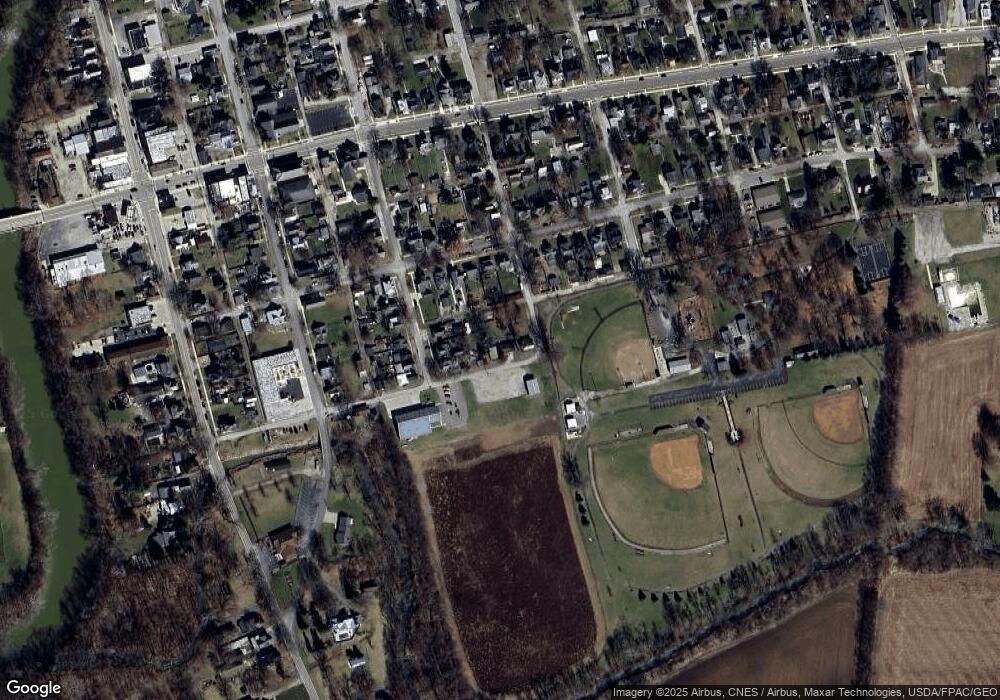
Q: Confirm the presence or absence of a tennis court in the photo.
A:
No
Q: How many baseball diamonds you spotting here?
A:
3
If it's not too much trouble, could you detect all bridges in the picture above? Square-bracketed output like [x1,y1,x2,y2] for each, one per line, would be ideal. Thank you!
[0,209,44,232]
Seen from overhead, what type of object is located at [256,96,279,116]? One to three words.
house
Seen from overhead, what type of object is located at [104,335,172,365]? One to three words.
building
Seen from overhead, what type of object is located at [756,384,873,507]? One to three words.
baseball field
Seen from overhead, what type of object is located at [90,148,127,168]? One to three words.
building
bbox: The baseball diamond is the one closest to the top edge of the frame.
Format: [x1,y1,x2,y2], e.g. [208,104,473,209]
[549,280,661,398]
